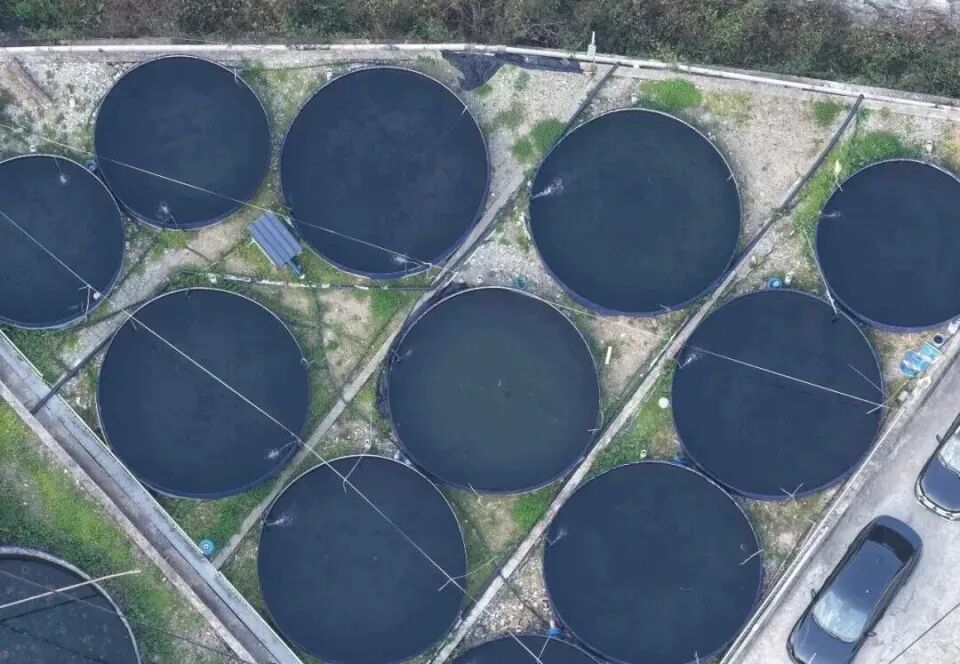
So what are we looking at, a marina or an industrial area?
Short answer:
industrial area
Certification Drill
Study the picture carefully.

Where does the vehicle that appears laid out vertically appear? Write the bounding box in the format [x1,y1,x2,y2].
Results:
[914,412,960,521]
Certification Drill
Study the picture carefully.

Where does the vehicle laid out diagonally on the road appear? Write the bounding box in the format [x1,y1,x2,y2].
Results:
[779,506,919,664]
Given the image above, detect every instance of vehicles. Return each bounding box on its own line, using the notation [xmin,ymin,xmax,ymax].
[779,506,919,664]
[914,412,960,521]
